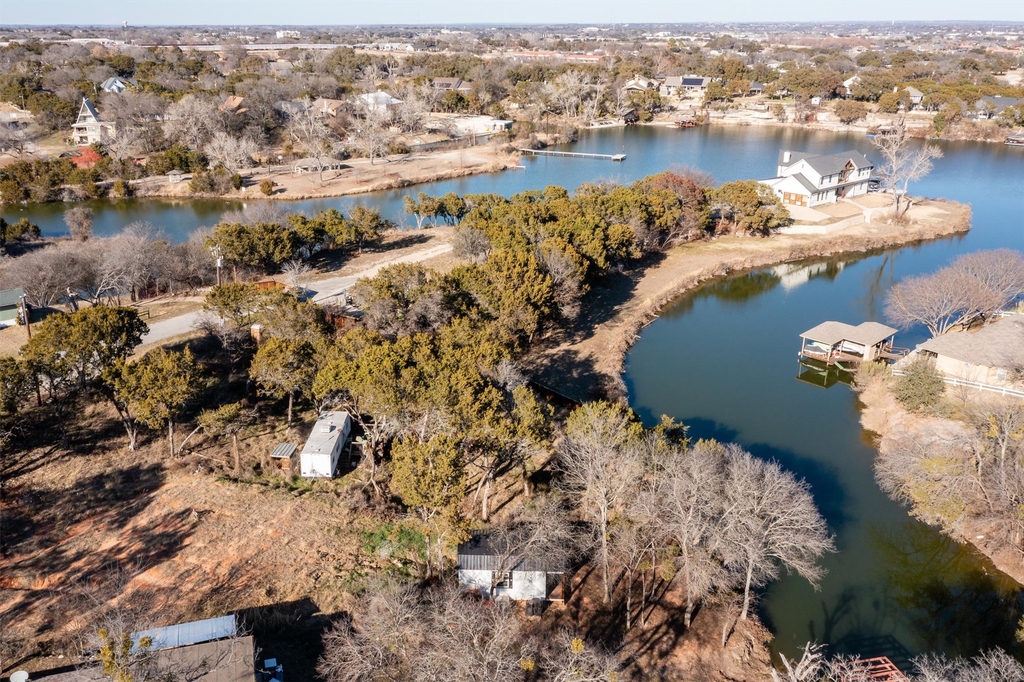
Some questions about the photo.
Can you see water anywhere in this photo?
Yes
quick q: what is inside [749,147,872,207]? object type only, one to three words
house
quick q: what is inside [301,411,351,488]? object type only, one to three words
trailer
